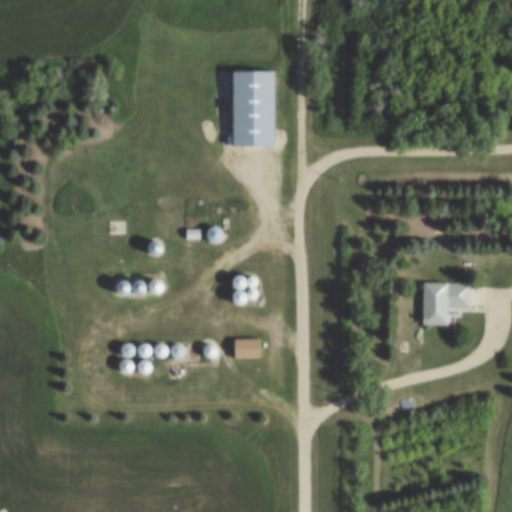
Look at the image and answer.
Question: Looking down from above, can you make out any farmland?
Yes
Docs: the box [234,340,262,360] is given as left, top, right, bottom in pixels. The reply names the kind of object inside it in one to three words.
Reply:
shed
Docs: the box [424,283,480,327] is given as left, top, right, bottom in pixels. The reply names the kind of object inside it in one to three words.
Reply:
house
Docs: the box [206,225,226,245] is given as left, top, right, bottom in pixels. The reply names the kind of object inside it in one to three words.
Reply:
silo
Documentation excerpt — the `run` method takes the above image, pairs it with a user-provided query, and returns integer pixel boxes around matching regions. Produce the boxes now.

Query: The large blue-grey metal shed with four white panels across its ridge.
[232,69,276,146]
